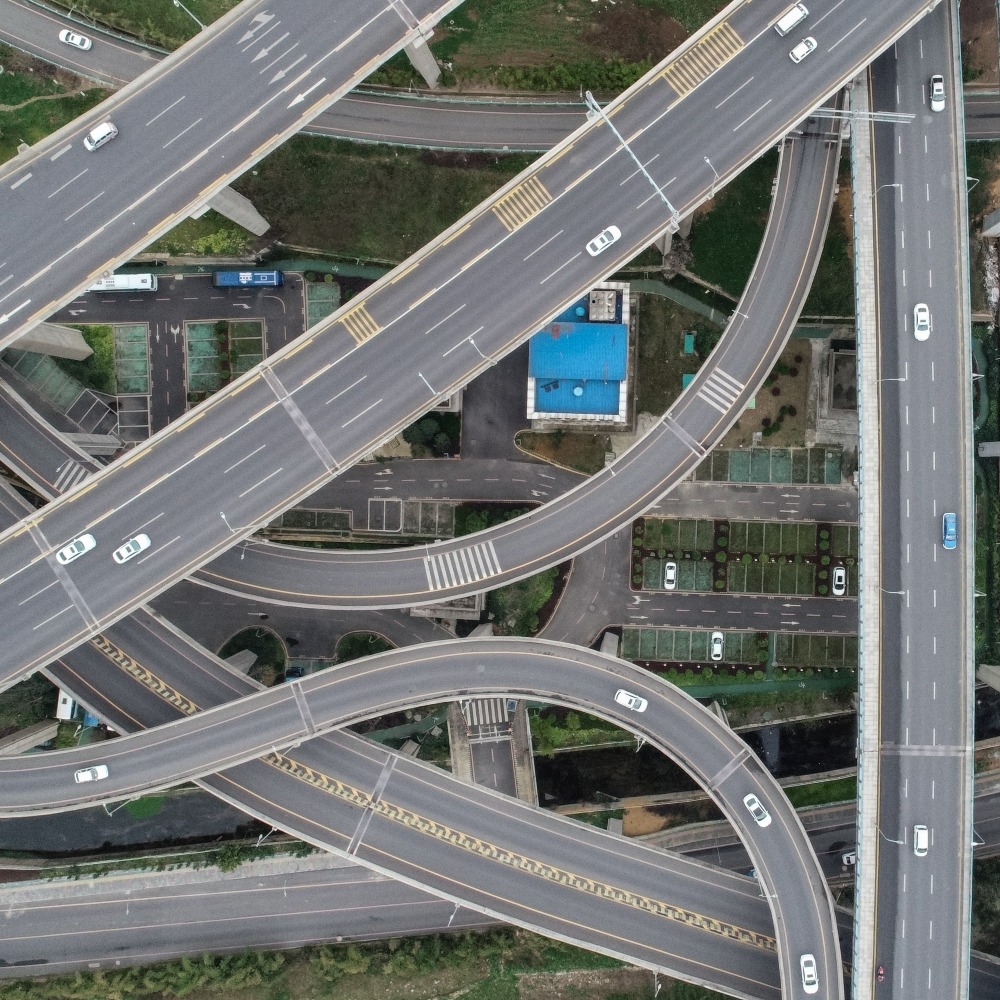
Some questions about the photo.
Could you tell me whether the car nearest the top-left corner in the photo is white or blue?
white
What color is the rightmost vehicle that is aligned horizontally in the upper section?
blue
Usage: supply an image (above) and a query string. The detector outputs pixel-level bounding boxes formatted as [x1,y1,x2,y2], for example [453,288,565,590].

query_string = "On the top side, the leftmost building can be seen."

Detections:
[428,386,467,412]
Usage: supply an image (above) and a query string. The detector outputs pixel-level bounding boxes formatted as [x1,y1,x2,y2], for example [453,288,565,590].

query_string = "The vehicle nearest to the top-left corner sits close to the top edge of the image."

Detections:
[60,30,93,51]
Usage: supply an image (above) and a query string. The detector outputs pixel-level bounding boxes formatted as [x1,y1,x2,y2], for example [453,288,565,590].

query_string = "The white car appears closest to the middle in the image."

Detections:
[664,562,677,589]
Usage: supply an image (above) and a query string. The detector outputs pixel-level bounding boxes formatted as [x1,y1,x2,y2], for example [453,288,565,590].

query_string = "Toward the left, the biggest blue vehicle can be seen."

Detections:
[213,271,287,290]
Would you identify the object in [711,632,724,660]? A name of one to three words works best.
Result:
vehicle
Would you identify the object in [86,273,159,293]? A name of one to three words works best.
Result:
vehicle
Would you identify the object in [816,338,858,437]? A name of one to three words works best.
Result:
building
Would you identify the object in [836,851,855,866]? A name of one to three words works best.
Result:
car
